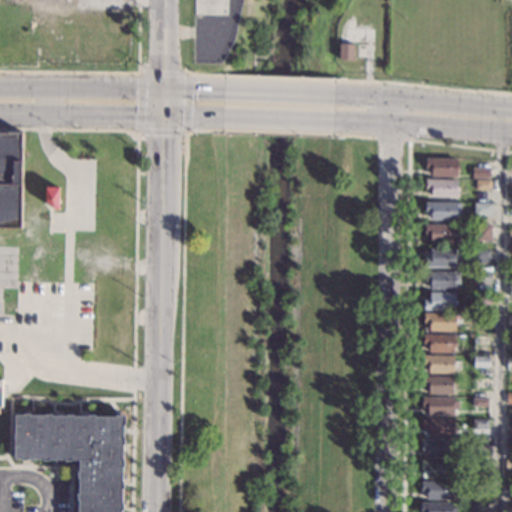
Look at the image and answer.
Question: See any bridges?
Yes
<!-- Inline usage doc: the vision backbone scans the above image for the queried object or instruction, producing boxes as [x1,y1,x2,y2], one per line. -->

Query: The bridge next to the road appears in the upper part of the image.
[225,70,335,139]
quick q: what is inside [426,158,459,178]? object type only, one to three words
house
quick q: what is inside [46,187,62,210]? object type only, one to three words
building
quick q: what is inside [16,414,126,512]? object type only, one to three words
building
